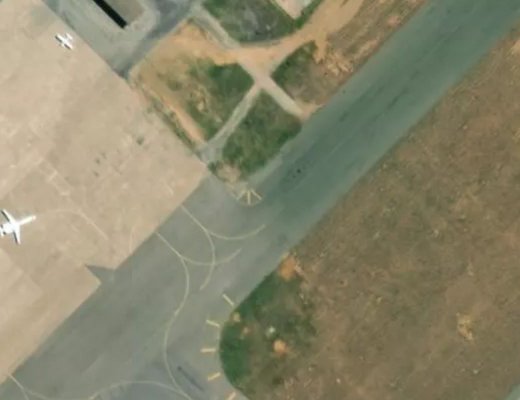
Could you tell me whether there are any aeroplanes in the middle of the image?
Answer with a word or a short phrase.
No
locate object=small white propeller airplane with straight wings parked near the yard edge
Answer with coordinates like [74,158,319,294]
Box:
[56,32,73,49]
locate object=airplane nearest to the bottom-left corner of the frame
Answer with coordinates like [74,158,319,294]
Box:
[0,210,36,245]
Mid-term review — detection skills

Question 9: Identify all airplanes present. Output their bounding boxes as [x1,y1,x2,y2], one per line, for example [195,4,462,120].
[56,32,73,49]
[0,210,36,245]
